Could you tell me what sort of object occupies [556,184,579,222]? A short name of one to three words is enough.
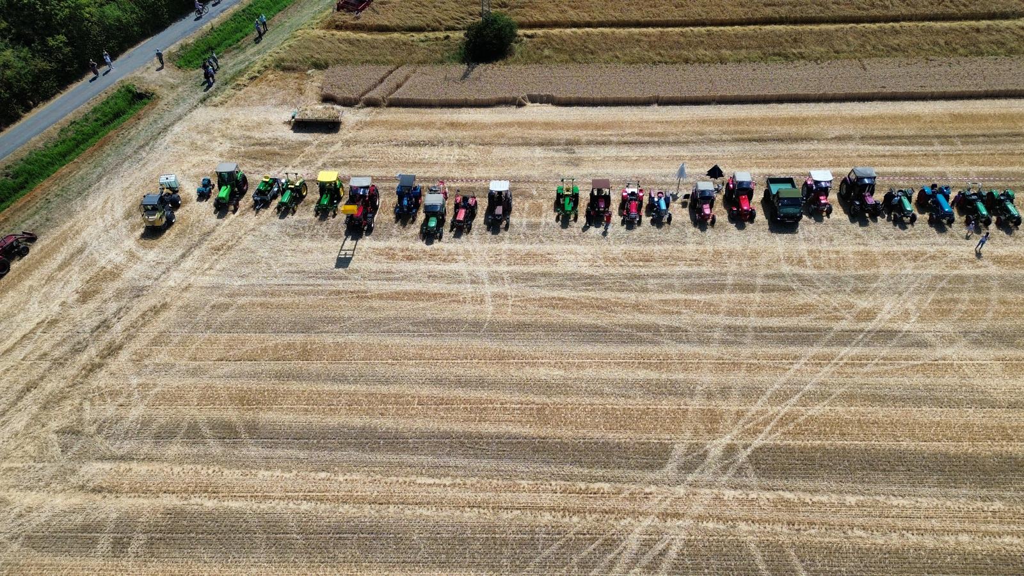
work vehicle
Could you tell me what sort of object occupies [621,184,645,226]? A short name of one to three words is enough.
work vehicle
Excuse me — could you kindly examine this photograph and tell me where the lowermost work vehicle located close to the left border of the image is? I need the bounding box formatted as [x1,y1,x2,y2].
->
[0,231,44,277]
